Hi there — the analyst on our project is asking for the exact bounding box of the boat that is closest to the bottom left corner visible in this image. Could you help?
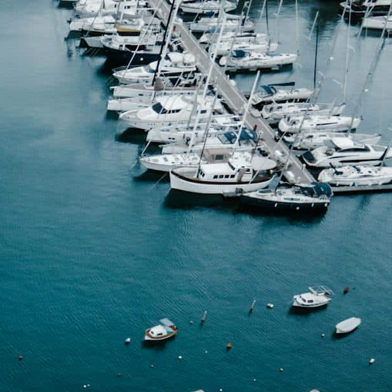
[145,321,179,344]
